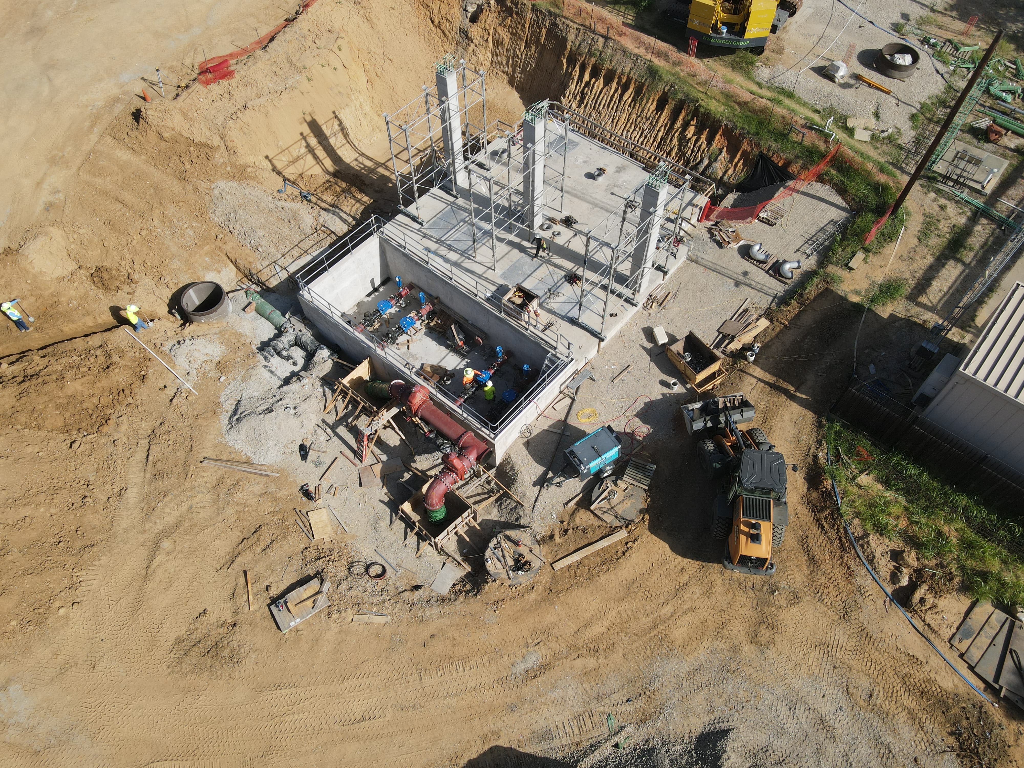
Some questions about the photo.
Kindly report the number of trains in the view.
4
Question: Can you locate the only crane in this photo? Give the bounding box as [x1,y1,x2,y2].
[670,0,788,51]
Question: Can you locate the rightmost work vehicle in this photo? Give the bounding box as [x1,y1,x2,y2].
[679,403,796,574]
